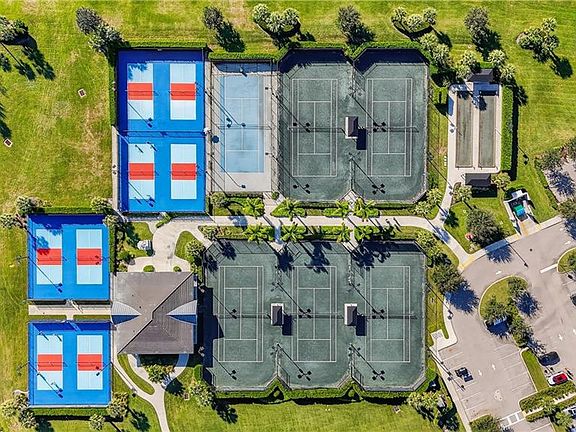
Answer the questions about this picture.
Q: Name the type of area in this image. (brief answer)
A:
sports ground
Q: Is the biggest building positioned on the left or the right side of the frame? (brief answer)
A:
left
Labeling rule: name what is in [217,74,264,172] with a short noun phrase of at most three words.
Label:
tennis court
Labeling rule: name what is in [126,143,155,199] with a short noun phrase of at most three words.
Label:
sports court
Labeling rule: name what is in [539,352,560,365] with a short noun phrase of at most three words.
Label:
vehicle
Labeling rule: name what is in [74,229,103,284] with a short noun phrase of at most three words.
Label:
sports court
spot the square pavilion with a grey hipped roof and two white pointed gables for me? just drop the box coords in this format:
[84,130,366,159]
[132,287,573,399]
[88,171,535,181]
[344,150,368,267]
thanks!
[110,272,197,354]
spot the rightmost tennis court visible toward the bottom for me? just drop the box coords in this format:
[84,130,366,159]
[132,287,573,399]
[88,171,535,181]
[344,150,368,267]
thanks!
[351,241,424,385]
